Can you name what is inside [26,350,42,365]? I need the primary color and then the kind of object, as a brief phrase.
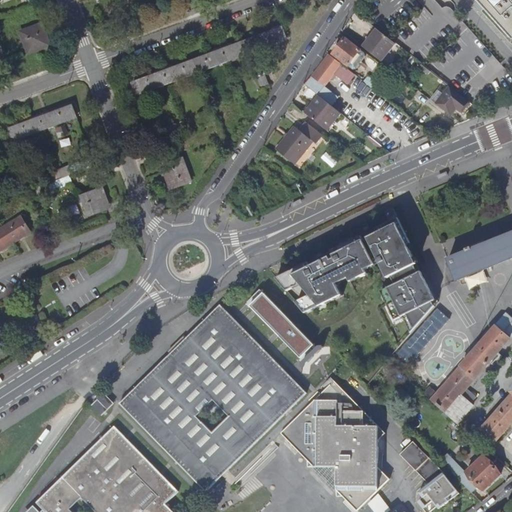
white vehicle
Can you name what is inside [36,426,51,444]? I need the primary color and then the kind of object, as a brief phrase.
white vehicle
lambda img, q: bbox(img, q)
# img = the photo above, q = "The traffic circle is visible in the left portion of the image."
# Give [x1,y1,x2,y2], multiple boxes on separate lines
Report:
[150,222,228,300]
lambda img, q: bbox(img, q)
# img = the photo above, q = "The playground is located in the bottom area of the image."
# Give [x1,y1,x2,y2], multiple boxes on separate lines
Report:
[414,330,470,388]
